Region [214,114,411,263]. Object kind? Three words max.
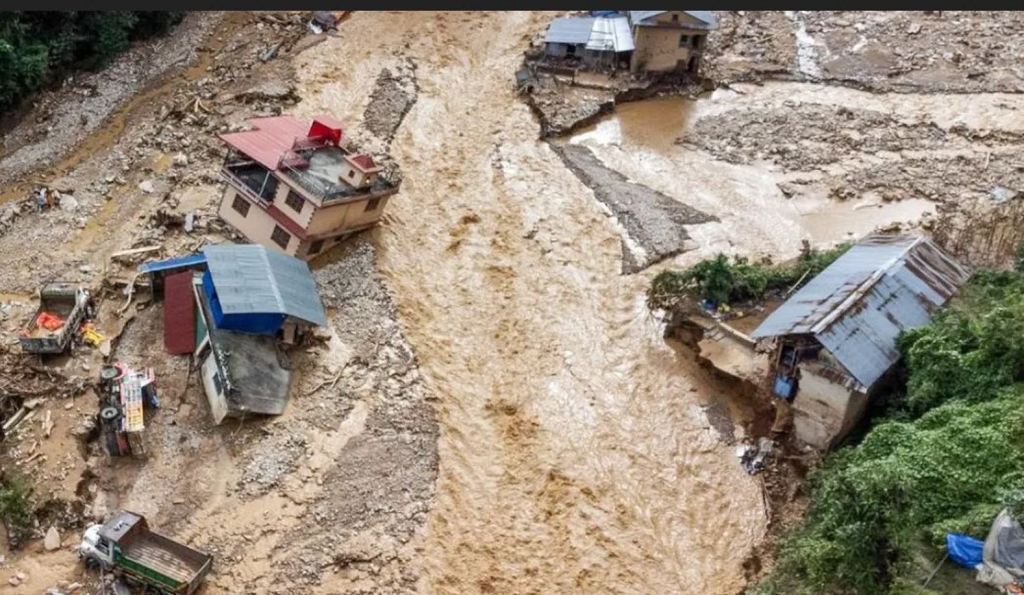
house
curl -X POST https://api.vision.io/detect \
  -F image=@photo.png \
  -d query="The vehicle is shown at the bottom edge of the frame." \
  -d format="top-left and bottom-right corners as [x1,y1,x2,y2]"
[79,509,214,595]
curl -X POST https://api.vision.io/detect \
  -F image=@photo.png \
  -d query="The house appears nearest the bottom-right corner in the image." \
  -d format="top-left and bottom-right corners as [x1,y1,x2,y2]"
[744,232,963,448]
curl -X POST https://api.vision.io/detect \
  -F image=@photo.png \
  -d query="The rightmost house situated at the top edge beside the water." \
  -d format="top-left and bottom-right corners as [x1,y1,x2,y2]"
[626,0,717,79]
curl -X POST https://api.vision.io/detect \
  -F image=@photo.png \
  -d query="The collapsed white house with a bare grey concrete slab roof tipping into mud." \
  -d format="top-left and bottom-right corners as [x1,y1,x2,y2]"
[199,295,291,420]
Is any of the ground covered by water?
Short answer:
Yes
